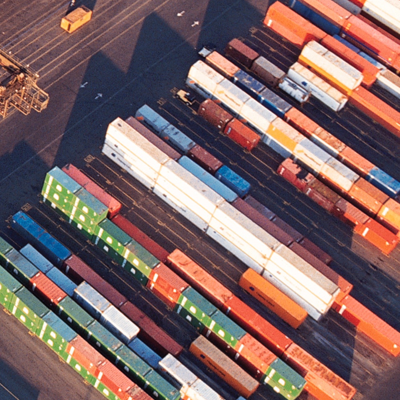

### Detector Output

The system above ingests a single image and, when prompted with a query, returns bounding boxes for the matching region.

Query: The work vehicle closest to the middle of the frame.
[174,81,202,106]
